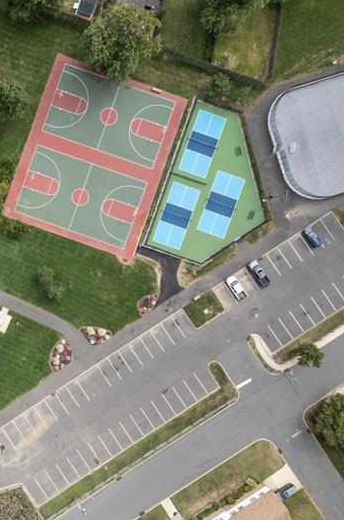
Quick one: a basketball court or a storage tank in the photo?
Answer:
basketball court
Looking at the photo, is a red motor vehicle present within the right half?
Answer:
No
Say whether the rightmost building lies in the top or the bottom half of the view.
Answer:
top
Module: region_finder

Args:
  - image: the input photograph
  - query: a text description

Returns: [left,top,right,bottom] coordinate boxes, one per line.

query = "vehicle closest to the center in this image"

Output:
[225,274,248,301]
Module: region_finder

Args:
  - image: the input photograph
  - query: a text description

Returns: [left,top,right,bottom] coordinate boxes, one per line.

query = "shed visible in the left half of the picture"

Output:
[74,0,97,20]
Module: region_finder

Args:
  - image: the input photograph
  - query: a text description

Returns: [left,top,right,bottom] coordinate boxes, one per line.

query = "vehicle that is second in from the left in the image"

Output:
[247,260,270,287]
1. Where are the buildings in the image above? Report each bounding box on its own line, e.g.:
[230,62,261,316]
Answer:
[267,69,344,200]
[213,487,290,520]
[74,0,97,20]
